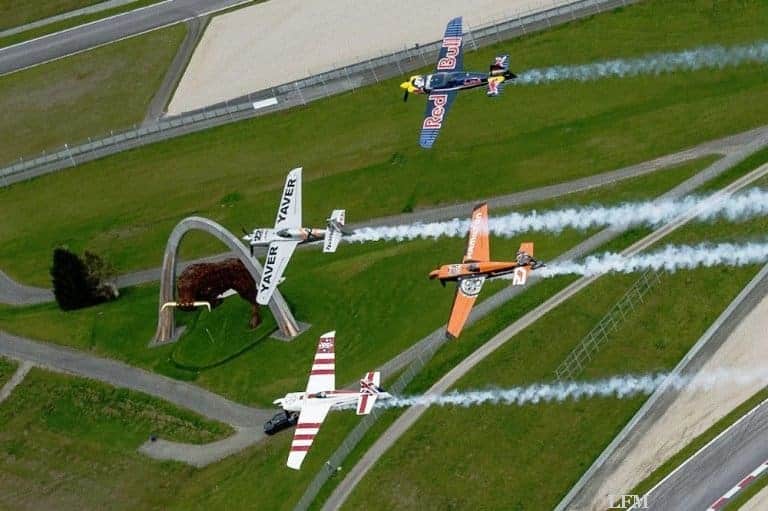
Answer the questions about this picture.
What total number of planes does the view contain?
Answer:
4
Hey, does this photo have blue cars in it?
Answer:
No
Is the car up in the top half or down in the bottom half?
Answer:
bottom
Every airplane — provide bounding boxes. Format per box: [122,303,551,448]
[270,334,386,467]
[238,169,351,305]
[427,206,545,338]
[399,20,516,149]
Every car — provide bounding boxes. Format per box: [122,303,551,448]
[260,407,302,431]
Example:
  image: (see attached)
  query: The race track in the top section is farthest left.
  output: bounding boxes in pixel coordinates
[0,0,254,75]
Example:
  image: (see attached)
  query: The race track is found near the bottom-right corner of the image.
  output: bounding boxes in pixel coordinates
[627,399,768,511]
